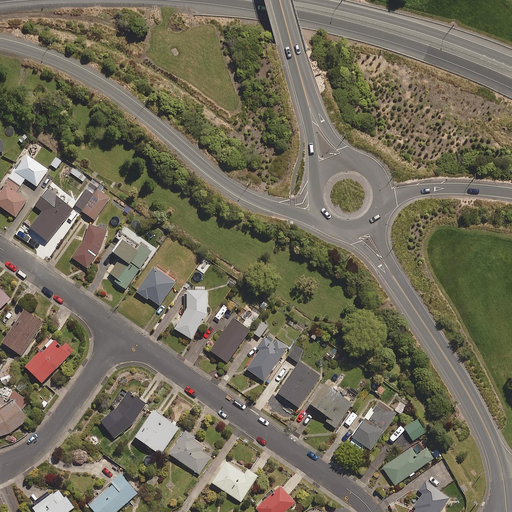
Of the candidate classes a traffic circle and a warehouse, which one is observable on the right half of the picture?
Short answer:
traffic circle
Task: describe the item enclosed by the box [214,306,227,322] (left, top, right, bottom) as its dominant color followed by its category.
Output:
white vehicle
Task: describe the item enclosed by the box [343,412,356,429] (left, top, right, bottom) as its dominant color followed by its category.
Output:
white vehicle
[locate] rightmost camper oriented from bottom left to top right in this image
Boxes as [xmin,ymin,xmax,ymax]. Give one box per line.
[388,426,405,443]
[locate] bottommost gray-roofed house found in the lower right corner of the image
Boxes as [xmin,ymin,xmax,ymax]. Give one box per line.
[410,481,449,512]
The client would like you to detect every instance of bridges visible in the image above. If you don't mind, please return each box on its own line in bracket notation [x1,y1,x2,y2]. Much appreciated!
[264,0,306,56]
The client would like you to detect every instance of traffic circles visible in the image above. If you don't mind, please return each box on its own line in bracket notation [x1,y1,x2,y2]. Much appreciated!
[310,158,386,234]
